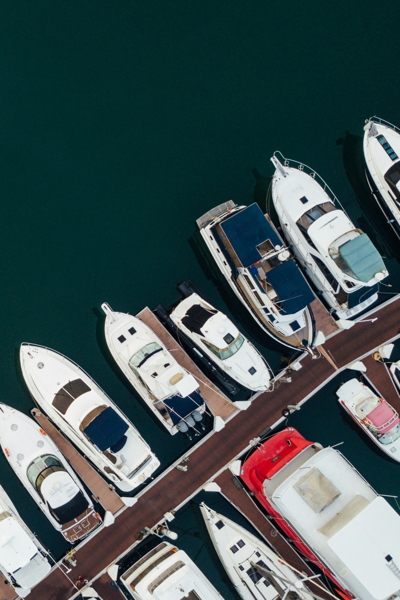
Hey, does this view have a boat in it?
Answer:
Yes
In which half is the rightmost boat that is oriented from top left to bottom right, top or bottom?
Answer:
bottom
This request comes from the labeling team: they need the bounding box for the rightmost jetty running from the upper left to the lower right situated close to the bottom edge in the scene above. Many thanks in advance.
[206,460,333,600]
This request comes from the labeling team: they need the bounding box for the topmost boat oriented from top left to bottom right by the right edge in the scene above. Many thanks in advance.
[266,151,392,320]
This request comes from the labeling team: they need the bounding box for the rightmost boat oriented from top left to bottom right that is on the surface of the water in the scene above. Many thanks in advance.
[335,378,400,462]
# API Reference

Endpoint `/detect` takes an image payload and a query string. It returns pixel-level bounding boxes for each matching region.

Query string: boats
[100,302,238,441]
[195,200,318,361]
[356,116,400,248]
[19,342,160,485]
[199,501,360,600]
[169,293,276,393]
[266,151,392,320]
[0,487,79,600]
[238,427,400,600]
[335,378,400,462]
[0,402,103,544]
[119,541,222,600]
